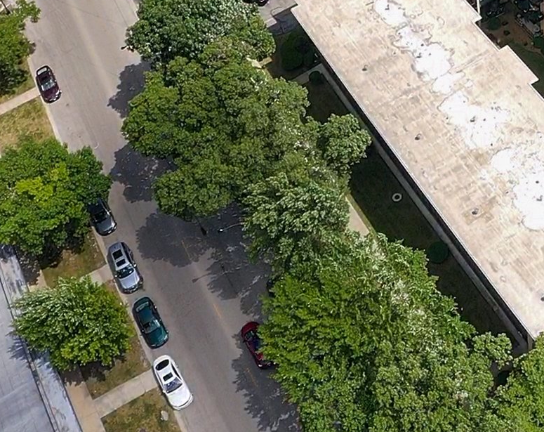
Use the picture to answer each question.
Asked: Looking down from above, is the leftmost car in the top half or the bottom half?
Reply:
top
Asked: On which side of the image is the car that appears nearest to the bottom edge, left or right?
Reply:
left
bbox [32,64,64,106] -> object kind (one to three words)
car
